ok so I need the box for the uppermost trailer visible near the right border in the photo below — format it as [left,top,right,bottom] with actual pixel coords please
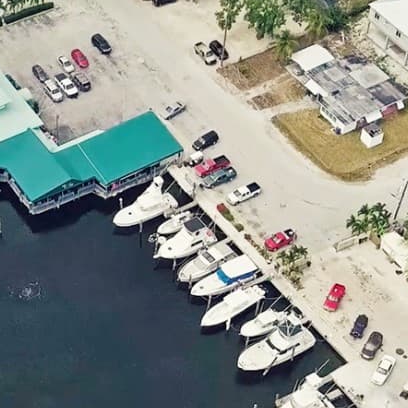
[380,233,408,276]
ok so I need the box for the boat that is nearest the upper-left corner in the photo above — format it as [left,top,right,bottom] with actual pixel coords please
[115,172,180,229]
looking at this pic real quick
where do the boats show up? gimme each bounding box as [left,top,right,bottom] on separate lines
[192,258,268,300]
[292,357,331,408]
[242,308,294,336]
[179,239,243,284]
[159,210,197,233]
[278,368,341,404]
[240,308,320,380]
[115,172,180,229]
[153,203,219,261]
[203,276,270,329]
